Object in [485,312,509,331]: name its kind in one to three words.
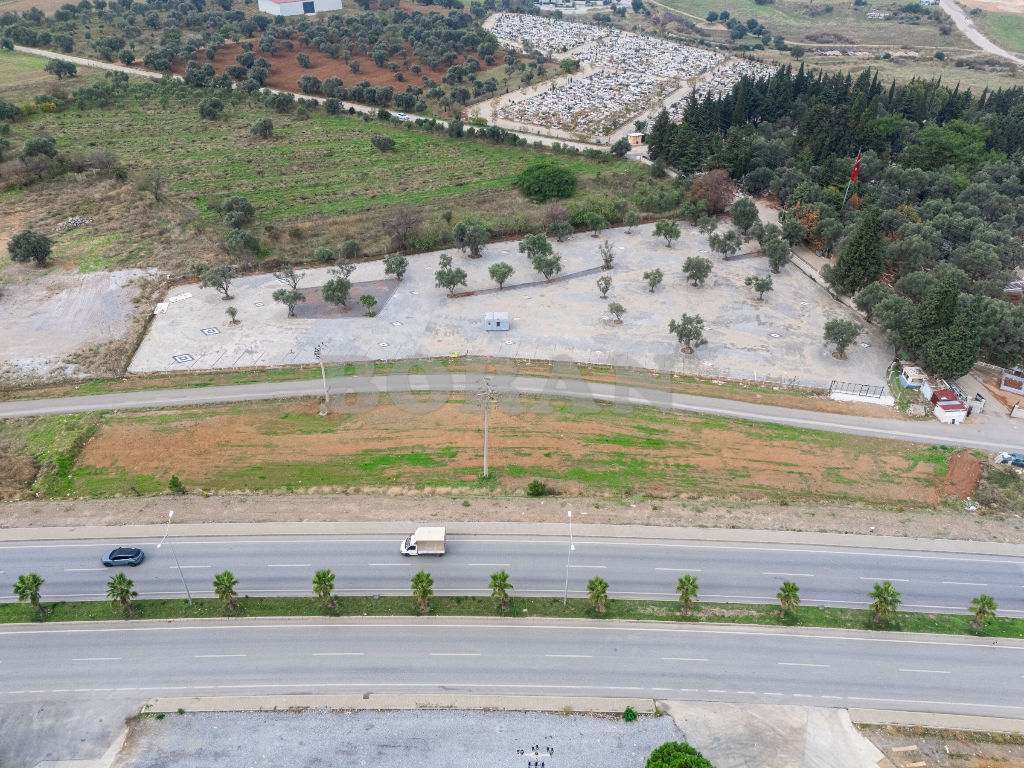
building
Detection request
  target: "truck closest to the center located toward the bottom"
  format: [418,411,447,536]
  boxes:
[403,524,446,556]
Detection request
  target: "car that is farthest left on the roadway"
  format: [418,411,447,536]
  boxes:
[101,544,148,566]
